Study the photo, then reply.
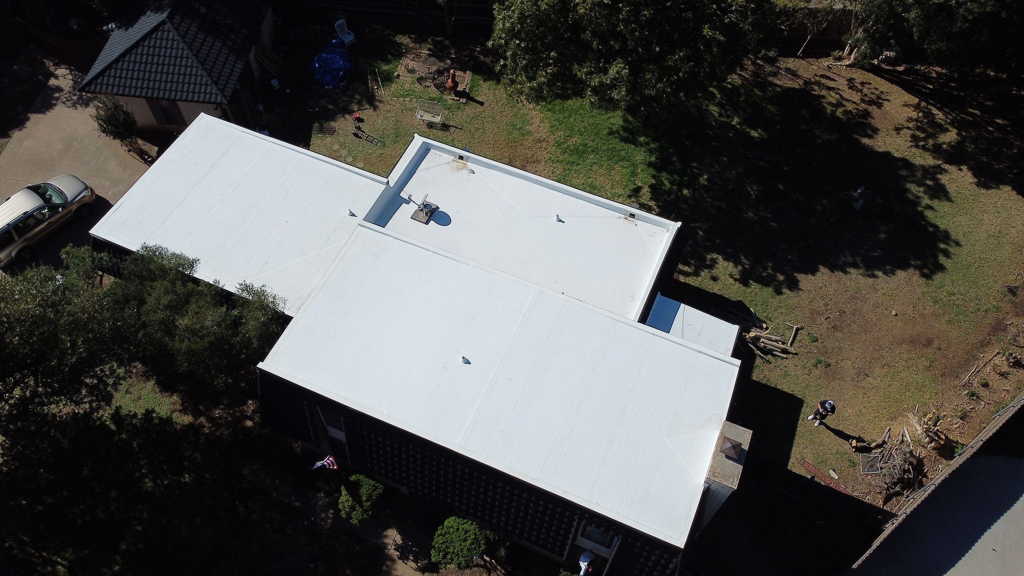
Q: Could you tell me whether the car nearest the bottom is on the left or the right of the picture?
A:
left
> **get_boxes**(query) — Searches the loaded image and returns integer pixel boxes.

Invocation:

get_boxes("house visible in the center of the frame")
[87,113,755,576]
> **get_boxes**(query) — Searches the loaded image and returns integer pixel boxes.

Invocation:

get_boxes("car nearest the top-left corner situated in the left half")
[0,179,95,268]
